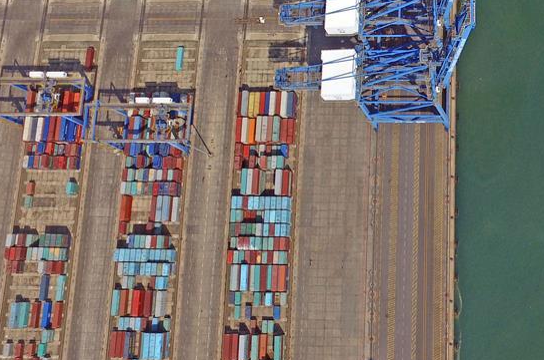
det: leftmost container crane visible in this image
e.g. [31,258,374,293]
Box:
[0,69,101,130]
